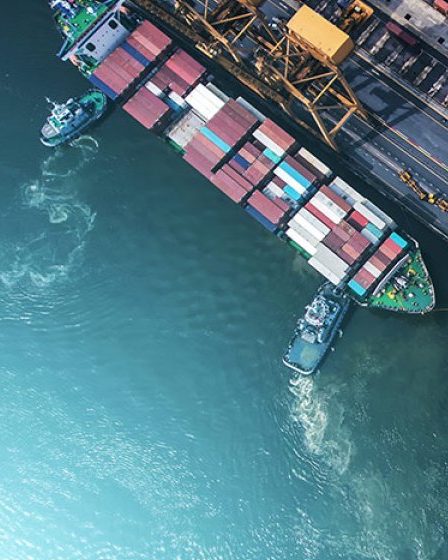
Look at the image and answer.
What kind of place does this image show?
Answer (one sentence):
It's a port.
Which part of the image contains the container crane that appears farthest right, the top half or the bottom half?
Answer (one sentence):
It is in the top half that the container crane that appears farthest right appears.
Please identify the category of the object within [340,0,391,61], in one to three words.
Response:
container crane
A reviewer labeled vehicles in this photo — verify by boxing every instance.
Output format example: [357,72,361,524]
[394,170,439,205]
[435,197,448,212]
